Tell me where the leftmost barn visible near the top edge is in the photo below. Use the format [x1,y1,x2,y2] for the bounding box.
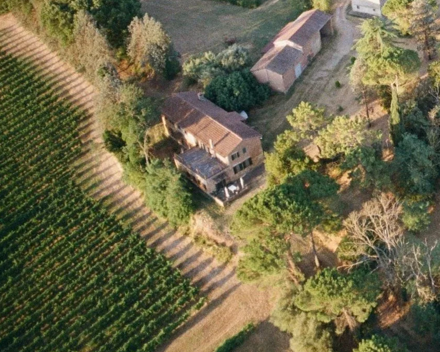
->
[255,5,332,92]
